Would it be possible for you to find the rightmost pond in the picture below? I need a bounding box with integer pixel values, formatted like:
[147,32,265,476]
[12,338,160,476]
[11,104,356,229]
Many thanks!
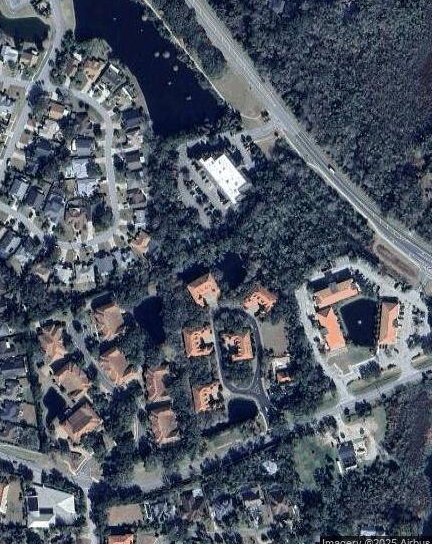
[338,296,381,348]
